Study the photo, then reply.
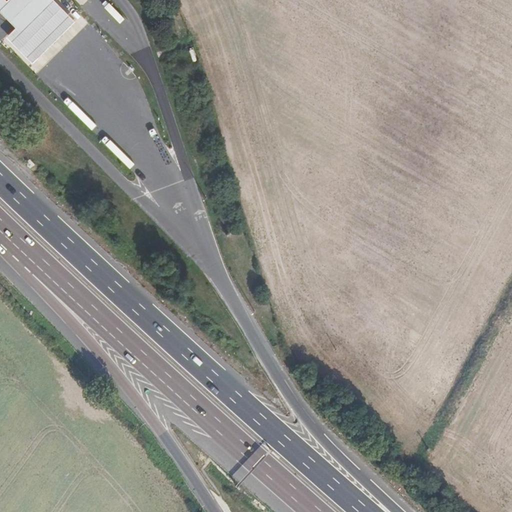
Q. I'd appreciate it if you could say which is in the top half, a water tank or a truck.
truck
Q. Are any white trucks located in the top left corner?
Yes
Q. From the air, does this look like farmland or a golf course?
farmland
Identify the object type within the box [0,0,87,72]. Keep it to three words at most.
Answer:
building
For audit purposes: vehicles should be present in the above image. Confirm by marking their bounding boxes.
[243,442,254,452]
[153,322,164,332]
[135,169,146,180]
[100,0,124,24]
[190,353,204,366]
[189,48,198,63]
[69,9,82,20]
[60,0,70,8]
[125,352,136,364]
[150,129,170,164]
[6,185,17,196]
[24,236,36,246]
[3,228,13,238]
[101,134,134,168]
[196,406,207,416]
[208,384,219,394]
[63,96,96,130]
[0,245,6,254]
